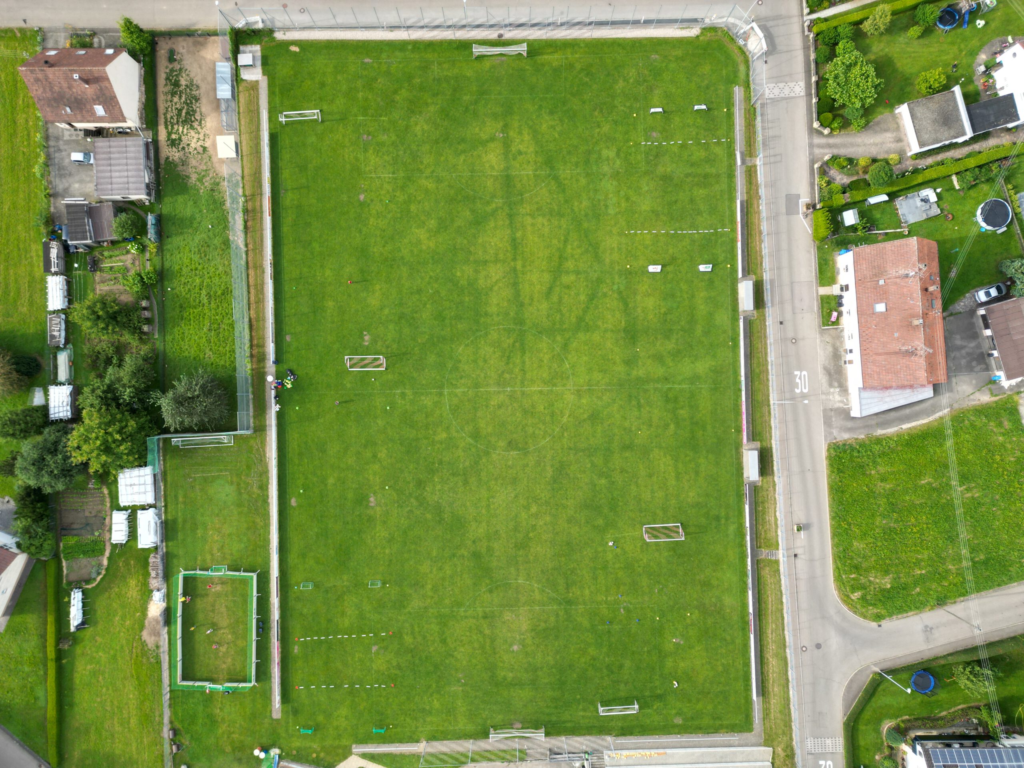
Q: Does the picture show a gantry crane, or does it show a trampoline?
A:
trampoline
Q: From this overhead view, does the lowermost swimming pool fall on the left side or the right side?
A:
right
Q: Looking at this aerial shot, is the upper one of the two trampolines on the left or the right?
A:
right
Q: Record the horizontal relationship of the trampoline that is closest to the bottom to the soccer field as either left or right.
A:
right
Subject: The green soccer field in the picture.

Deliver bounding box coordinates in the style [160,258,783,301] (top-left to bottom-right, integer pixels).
[261,37,754,745]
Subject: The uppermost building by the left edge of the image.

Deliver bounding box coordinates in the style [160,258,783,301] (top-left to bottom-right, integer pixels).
[19,49,141,129]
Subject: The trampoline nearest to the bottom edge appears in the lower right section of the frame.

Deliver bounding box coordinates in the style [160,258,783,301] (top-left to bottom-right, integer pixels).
[912,670,941,701]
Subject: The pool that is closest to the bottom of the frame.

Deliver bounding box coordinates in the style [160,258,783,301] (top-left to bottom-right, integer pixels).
[972,200,1013,233]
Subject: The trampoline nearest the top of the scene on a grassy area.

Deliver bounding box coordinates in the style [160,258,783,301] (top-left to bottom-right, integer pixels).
[935,5,959,35]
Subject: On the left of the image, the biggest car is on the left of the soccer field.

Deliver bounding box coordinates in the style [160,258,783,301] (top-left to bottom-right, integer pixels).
[67,149,94,165]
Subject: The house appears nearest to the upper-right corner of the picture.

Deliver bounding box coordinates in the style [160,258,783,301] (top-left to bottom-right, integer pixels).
[992,37,1024,97]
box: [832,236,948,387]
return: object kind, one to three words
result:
house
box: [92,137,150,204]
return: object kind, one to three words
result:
building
